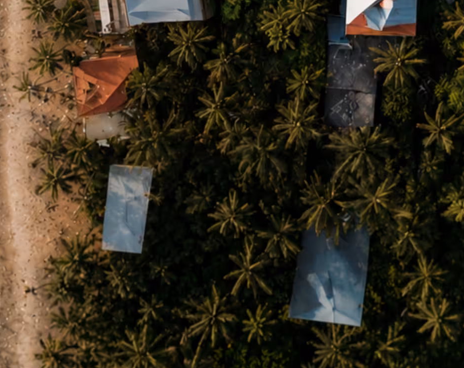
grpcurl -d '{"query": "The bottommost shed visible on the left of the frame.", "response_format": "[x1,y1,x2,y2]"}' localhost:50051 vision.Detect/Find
[103,161,154,253]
